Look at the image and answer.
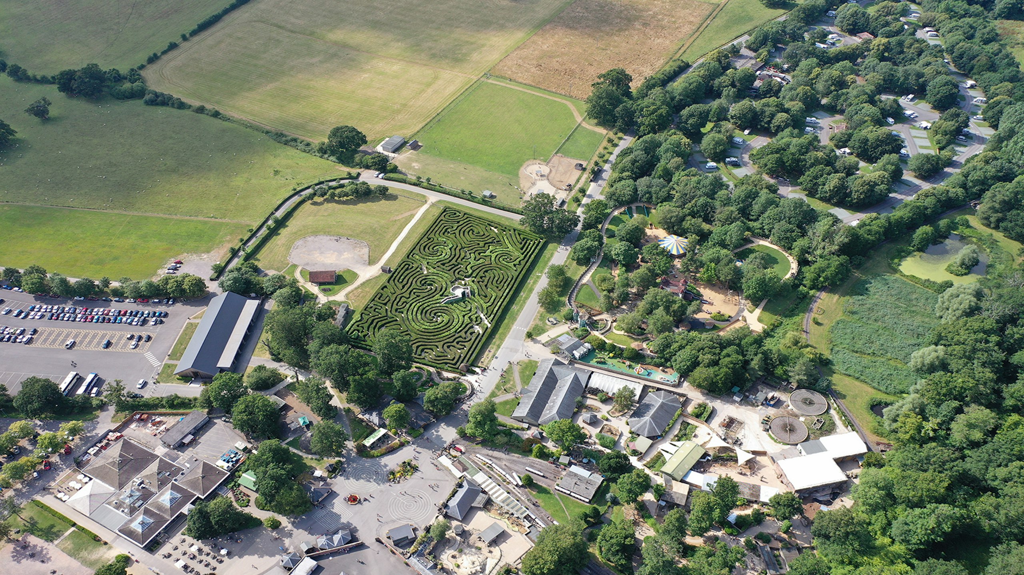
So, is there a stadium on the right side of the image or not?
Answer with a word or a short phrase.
No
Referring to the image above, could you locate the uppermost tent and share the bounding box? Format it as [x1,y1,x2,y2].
[657,235,692,259]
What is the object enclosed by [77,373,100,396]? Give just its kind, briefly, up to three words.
bus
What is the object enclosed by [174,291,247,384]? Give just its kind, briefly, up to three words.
shed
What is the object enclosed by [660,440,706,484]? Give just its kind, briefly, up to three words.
barn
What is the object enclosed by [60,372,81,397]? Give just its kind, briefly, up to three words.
bus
